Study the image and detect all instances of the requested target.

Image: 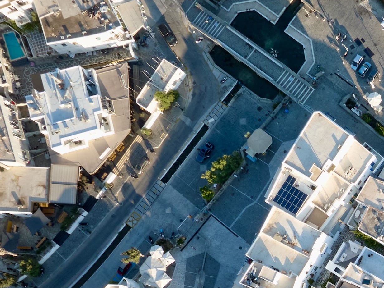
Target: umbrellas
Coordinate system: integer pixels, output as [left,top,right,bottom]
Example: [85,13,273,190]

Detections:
[368,92,382,106]
[149,245,165,257]
[247,128,272,153]
[161,248,179,269]
[151,271,175,288]
[140,254,166,280]
[139,273,153,286]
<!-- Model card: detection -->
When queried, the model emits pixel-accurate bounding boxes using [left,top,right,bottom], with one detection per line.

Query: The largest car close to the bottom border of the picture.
[116,262,137,279]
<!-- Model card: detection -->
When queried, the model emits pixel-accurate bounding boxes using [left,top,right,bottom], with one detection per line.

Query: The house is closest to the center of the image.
[138,58,196,120]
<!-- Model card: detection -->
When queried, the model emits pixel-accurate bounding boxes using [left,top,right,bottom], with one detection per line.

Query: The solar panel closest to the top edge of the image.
[271,174,308,213]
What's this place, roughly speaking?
residential area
